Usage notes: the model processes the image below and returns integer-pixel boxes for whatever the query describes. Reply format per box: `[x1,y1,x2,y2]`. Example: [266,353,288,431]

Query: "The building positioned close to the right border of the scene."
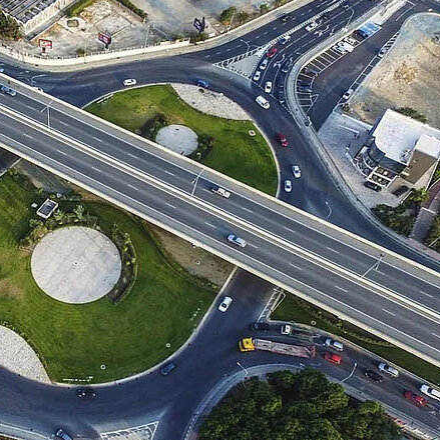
[360,108,440,186]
